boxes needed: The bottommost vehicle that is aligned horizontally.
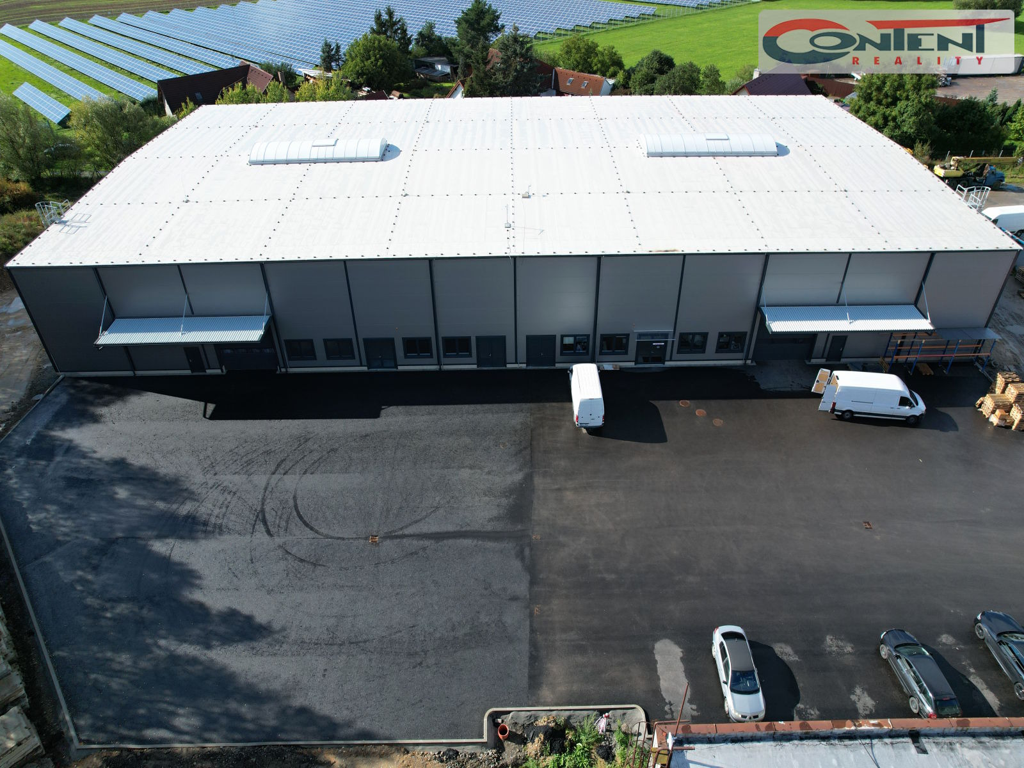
[816,374,928,424]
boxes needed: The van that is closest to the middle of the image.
[567,365,605,425]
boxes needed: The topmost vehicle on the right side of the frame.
[927,157,1024,192]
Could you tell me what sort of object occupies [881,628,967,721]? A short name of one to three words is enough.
car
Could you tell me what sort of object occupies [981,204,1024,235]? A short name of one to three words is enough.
van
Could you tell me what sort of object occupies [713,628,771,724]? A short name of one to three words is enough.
car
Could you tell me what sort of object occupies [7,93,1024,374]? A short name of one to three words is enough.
warehouse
